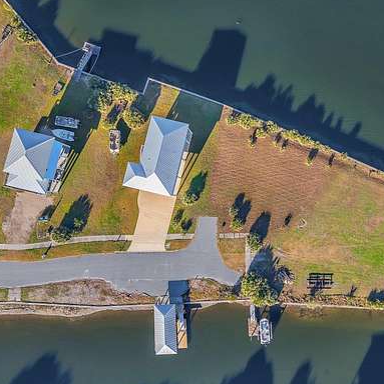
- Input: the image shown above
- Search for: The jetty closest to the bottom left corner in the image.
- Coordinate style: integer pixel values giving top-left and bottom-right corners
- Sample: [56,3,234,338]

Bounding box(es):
[157,296,189,350]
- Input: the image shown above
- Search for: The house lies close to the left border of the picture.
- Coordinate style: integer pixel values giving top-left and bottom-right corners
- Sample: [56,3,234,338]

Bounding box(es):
[4,128,69,194]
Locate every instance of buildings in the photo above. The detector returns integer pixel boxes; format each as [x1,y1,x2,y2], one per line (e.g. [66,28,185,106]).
[155,304,179,355]
[4,128,69,194]
[122,115,199,195]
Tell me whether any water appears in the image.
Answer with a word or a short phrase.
Yes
